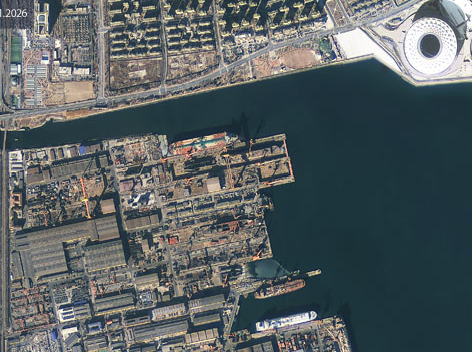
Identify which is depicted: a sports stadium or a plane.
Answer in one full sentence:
Looking from above, you can make out a sports stadium.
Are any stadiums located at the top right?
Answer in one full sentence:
Yes, at the top right there is a stadium.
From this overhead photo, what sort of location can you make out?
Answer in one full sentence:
It's a port.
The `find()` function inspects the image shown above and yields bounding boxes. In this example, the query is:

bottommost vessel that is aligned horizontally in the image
[255,310,318,331]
